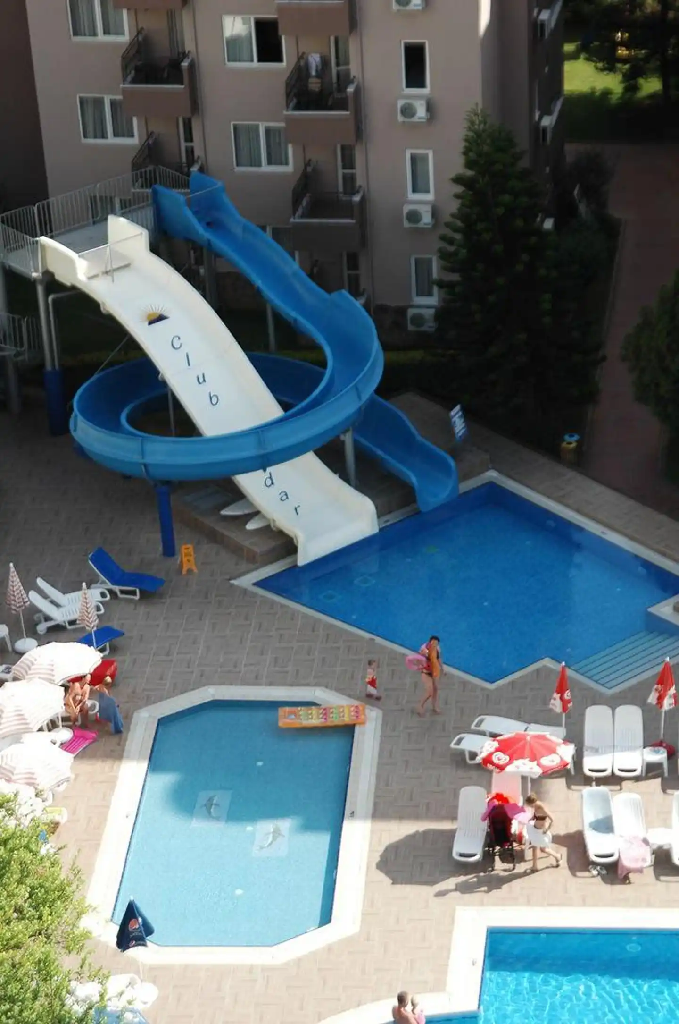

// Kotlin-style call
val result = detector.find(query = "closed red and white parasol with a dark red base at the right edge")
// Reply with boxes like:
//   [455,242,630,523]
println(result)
[651,653,678,759]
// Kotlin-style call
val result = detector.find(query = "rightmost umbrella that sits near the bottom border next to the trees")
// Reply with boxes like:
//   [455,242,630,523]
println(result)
[109,894,156,1003]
